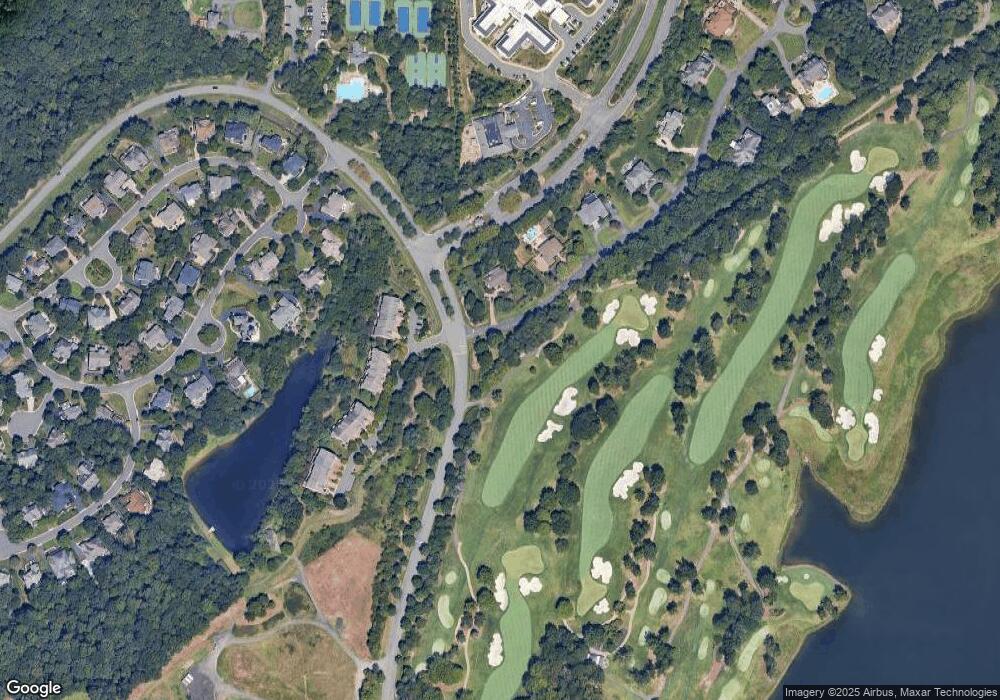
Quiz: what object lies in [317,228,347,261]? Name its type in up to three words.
house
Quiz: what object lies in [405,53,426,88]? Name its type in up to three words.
tennis court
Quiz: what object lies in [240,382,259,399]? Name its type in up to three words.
swimming pool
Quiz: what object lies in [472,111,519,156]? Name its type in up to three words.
building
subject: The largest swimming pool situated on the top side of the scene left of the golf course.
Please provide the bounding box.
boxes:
[333,72,383,105]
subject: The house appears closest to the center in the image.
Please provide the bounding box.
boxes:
[483,268,510,292]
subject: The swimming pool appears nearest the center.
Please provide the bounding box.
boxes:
[522,226,548,250]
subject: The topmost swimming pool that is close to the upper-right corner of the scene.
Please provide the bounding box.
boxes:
[807,79,839,107]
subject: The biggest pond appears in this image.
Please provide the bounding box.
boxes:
[187,335,336,553]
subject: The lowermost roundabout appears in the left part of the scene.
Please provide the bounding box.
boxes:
[189,315,227,352]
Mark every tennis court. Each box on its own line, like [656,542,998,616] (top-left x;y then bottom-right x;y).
[395,0,413,38]
[405,53,426,88]
[427,53,446,88]
[365,0,385,30]
[346,0,365,30]
[414,0,433,38]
